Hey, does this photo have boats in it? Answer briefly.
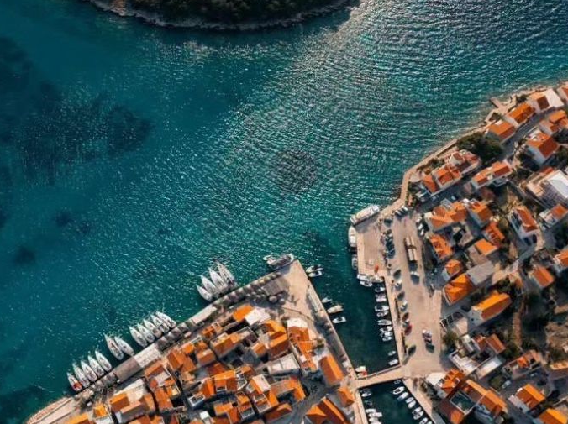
Yes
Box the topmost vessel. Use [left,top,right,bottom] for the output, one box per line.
[348,206,379,225]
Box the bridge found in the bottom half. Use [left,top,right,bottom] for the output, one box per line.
[356,364,403,390]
